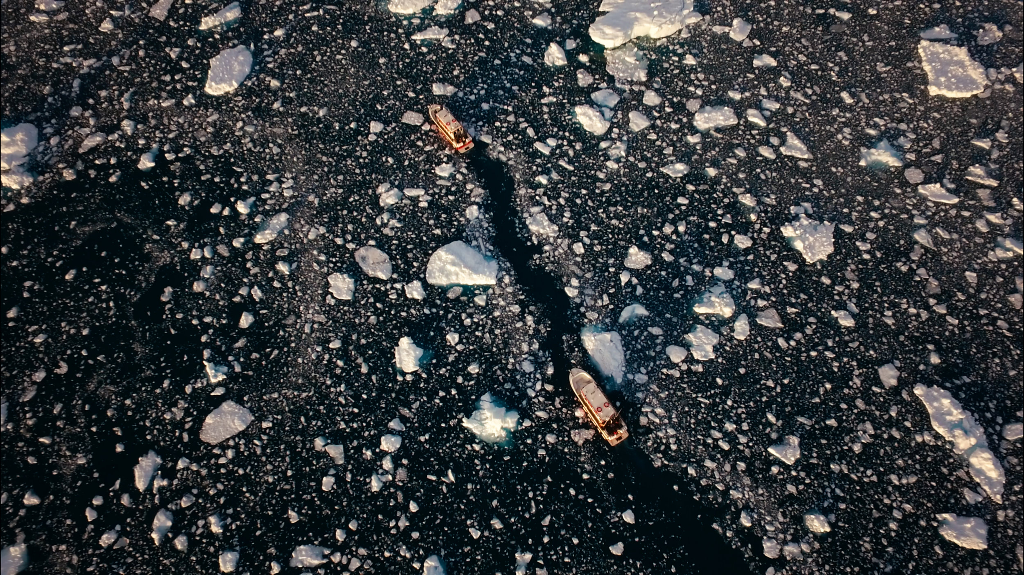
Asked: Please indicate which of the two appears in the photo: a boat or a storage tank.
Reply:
boat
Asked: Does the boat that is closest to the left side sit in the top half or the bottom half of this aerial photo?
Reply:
top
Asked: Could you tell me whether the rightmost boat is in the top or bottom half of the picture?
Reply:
bottom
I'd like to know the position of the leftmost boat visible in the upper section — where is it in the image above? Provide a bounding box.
[427,102,473,154]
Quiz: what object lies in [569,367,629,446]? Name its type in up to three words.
boat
